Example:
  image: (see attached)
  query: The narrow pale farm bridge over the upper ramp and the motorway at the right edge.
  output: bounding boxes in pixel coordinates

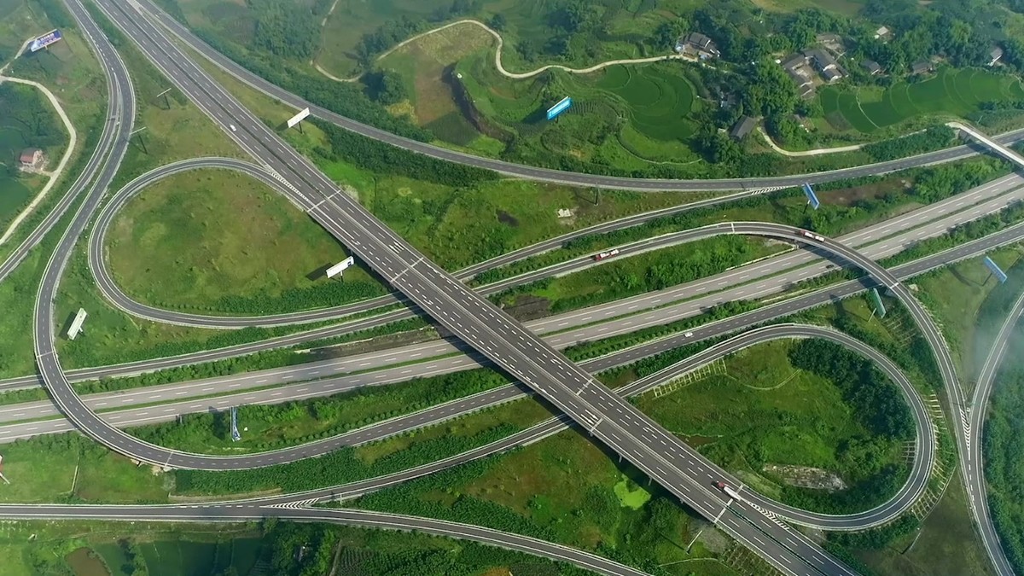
[944,121,1024,173]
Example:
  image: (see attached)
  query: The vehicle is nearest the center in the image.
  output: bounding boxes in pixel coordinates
[595,248,620,260]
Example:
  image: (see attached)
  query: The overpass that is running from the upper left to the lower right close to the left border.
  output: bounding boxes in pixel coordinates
[35,349,174,468]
